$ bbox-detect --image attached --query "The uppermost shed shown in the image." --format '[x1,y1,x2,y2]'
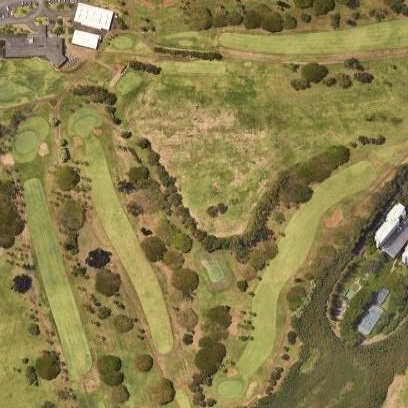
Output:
[73,2,113,30]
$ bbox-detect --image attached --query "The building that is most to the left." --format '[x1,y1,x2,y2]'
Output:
[5,26,67,66]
